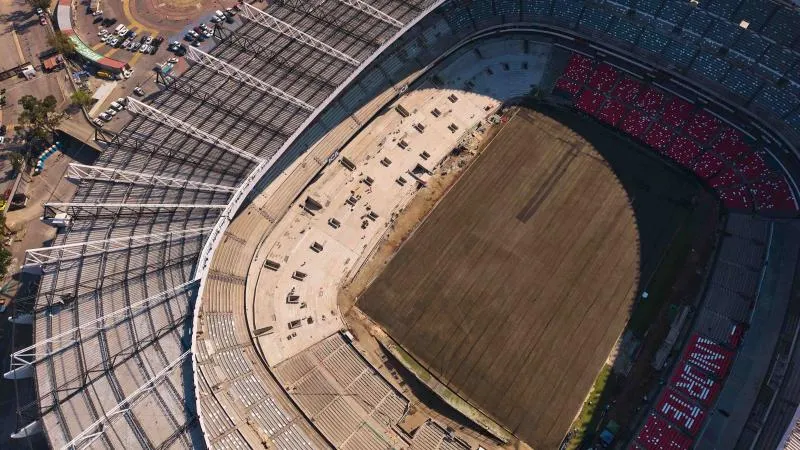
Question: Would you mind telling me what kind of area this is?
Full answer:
The area seen from above is a sports ground.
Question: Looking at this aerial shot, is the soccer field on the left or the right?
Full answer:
You can find the soccer field on the right side of the picture.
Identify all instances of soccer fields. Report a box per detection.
[355,107,697,450]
